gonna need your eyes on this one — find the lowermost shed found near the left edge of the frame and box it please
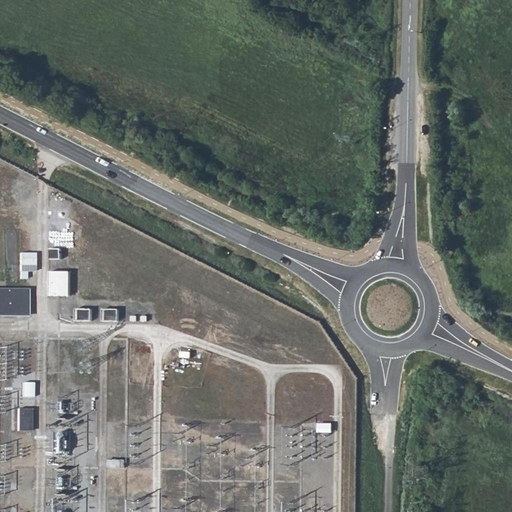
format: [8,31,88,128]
[17,408,35,431]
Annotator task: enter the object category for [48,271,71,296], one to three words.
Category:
building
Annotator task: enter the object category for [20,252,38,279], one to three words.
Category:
house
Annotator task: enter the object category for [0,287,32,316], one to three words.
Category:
building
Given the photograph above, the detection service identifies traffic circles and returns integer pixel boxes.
[284,183,512,386]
